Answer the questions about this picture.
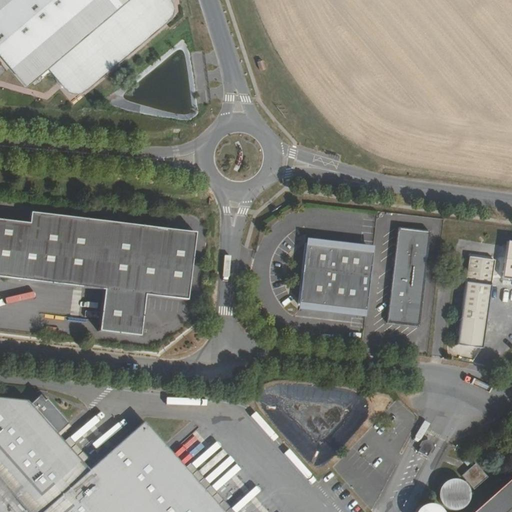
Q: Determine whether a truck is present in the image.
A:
Yes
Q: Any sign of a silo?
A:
Yes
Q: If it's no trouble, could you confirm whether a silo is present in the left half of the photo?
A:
No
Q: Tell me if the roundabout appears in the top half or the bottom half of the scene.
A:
top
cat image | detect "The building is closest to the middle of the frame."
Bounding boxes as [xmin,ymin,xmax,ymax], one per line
[300,238,376,316]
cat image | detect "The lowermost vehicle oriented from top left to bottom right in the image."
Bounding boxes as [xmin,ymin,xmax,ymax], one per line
[284,448,316,484]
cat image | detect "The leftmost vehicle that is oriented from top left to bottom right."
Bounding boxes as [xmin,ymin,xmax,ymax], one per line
[250,410,281,442]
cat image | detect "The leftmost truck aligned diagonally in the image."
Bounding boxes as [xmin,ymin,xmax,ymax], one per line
[70,410,106,441]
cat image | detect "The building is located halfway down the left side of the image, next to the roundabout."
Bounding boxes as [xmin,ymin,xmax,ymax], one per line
[0,210,198,336]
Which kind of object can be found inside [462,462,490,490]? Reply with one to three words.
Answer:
building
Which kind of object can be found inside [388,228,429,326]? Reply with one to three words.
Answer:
building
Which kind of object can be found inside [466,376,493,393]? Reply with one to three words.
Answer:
vehicle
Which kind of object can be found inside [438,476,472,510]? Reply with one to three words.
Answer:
silo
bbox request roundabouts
[196,114,282,200]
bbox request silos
[416,499,450,512]
[438,476,472,510]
